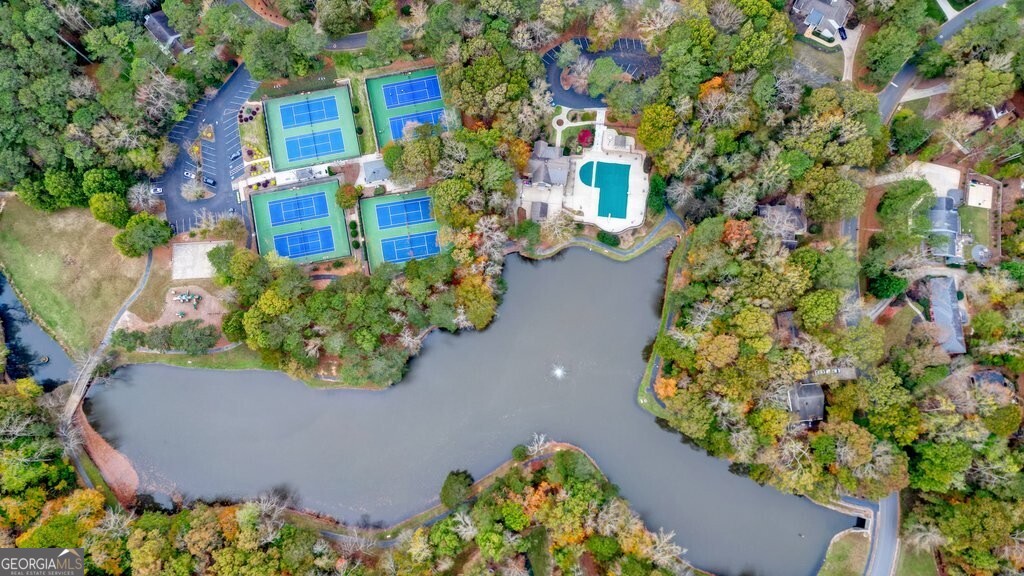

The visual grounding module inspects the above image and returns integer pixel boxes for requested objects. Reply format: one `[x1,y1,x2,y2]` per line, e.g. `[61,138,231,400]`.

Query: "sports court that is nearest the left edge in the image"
[171,240,233,280]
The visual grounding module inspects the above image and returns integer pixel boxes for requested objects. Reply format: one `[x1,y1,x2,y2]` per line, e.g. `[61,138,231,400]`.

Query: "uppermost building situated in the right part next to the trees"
[788,0,854,39]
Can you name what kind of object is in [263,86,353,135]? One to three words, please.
tennis court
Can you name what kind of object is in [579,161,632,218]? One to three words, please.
swimming pool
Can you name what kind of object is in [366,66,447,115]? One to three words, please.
tennis court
